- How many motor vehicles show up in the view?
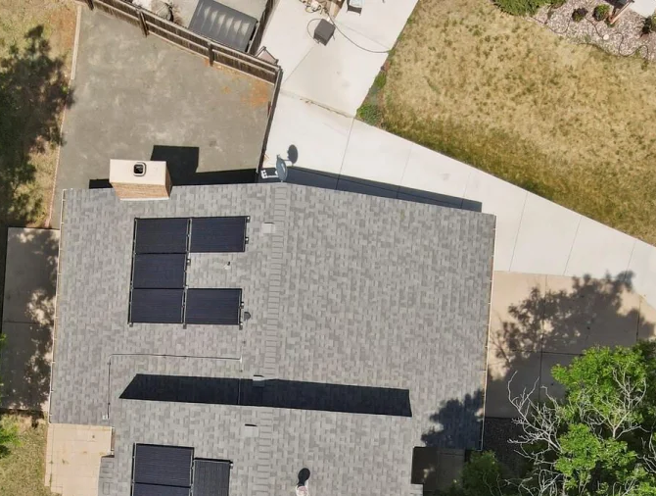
zero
